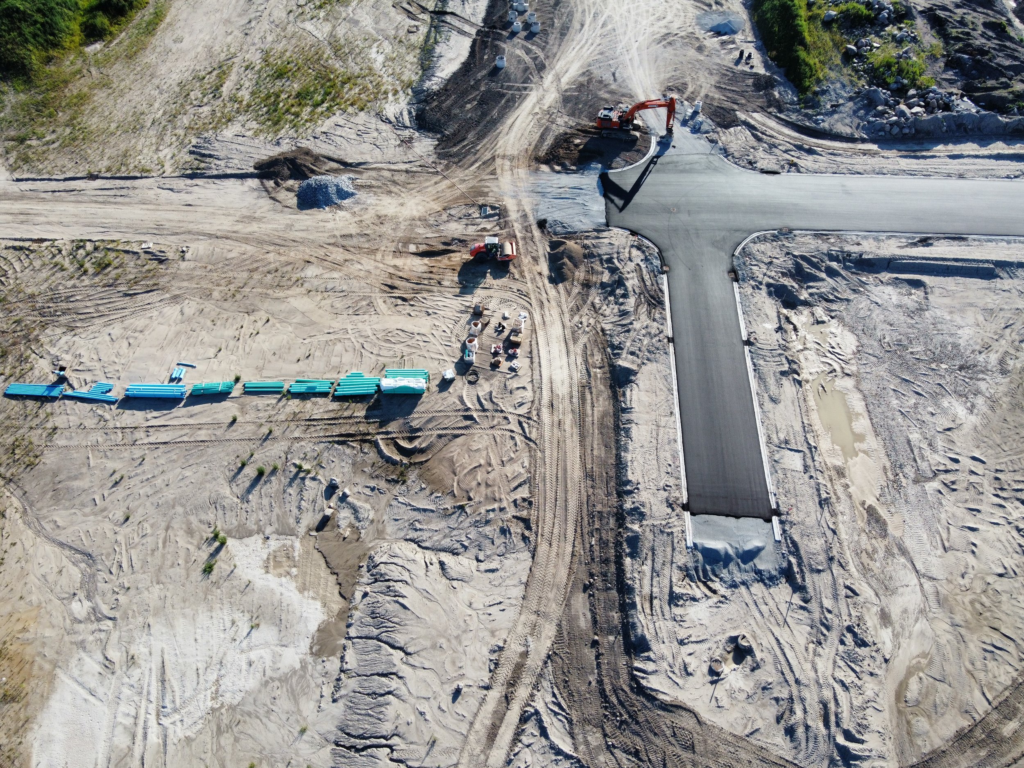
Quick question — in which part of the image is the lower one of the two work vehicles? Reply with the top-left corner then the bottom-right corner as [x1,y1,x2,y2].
[469,233,518,264]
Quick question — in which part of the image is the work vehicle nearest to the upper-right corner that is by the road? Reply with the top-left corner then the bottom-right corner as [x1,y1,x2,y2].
[597,95,680,143]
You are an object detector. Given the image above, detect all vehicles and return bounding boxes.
[597,95,680,143]
[469,233,518,264]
